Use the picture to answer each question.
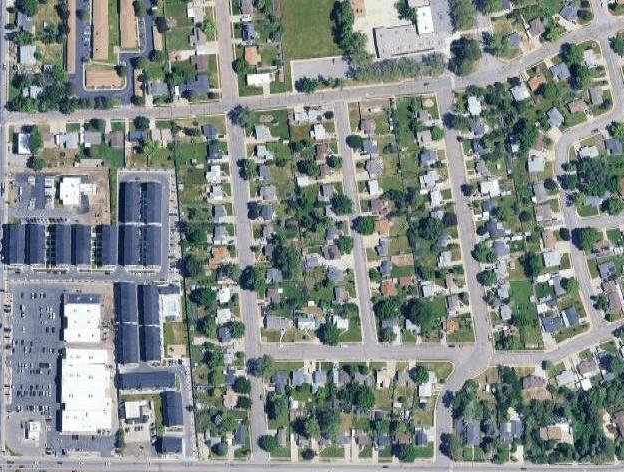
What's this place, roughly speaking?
residential area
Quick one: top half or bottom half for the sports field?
top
